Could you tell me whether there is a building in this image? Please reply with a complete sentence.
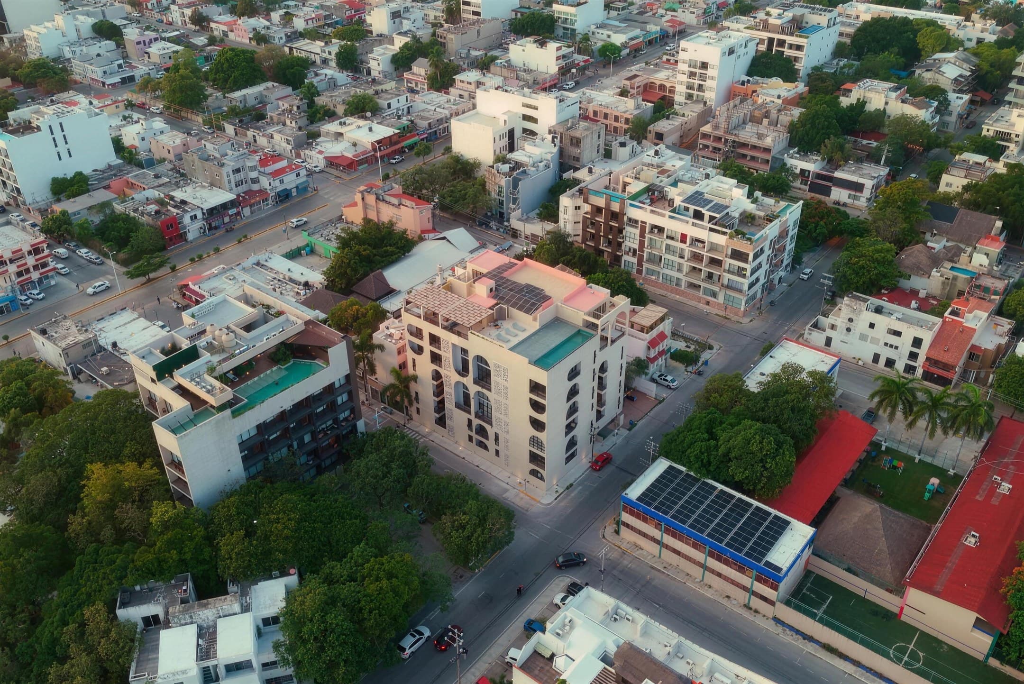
Yes, you can see a building in this photo.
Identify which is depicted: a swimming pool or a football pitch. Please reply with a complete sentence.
Visible in the photo is a swimming pool.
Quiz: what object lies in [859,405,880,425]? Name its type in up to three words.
vehicle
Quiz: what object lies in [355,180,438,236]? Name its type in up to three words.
house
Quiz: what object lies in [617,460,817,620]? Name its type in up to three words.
building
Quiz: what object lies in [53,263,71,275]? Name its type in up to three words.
vehicle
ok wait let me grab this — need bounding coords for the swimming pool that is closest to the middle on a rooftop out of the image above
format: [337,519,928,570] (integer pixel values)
[530,328,594,370]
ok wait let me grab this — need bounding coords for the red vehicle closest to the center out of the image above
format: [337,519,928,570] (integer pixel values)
[589,450,614,471]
